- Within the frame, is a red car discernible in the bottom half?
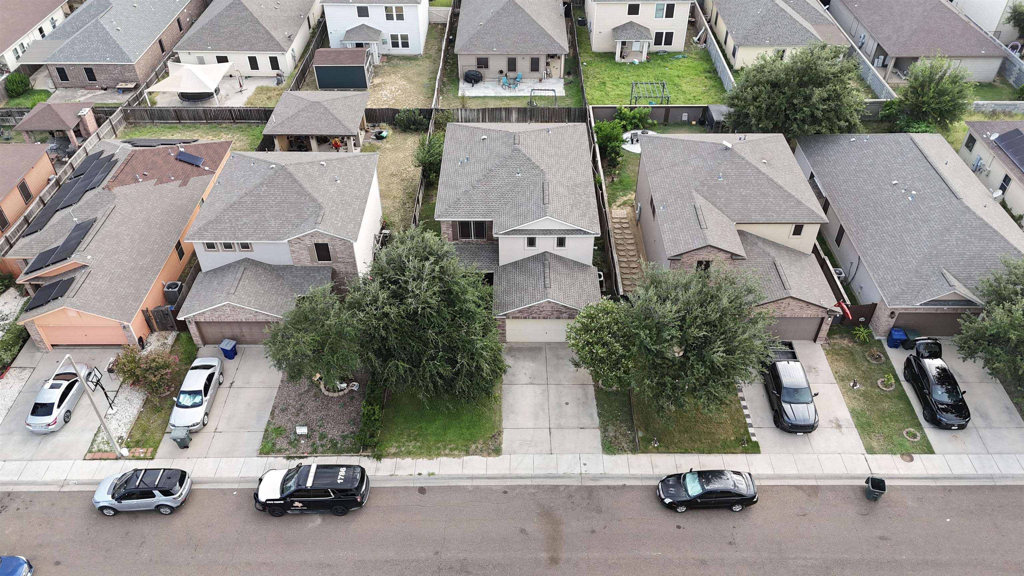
No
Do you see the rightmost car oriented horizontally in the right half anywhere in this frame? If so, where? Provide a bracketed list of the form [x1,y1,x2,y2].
[658,466,762,513]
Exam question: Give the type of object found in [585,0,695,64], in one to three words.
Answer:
house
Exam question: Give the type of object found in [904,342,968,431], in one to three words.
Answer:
car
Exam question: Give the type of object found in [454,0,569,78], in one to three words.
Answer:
house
